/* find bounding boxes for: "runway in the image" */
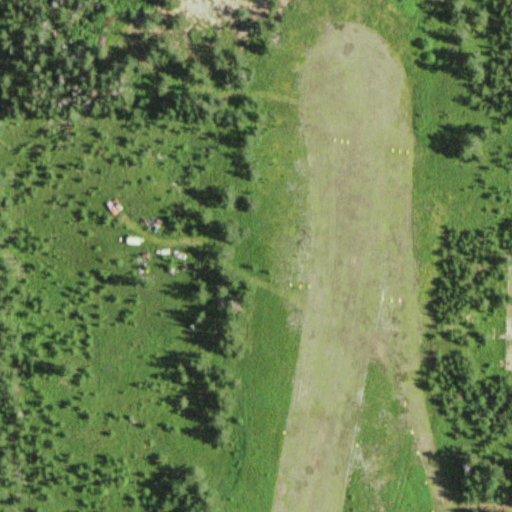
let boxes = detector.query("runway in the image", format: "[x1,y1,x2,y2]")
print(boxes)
[272,22,448,512]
